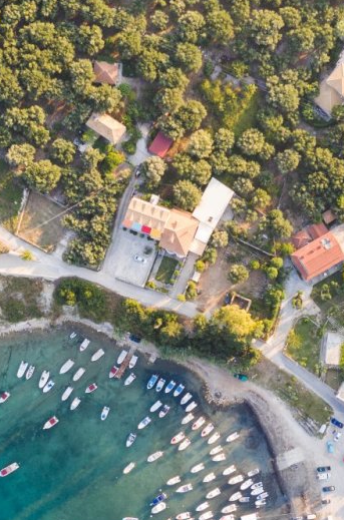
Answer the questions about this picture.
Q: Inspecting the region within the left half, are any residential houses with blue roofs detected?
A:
No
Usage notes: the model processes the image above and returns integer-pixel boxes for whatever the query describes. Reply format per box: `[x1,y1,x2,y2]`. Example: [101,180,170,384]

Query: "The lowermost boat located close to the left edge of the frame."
[0,461,22,475]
